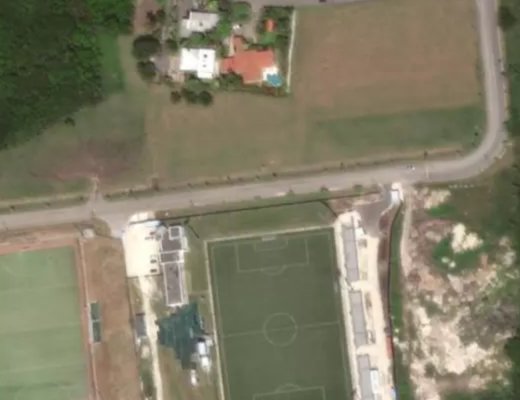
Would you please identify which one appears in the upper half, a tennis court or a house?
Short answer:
house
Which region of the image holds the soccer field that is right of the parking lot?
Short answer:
bottom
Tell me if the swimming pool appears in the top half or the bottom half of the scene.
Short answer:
top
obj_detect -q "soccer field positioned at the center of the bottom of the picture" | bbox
[207,226,353,400]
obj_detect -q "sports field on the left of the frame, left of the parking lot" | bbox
[0,246,91,400]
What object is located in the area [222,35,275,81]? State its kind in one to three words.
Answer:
house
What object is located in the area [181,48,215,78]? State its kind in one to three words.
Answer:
house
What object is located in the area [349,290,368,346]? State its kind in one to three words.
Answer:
building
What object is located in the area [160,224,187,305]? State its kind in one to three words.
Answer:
building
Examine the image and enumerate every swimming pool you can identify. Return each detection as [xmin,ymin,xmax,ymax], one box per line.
[263,66,283,87]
